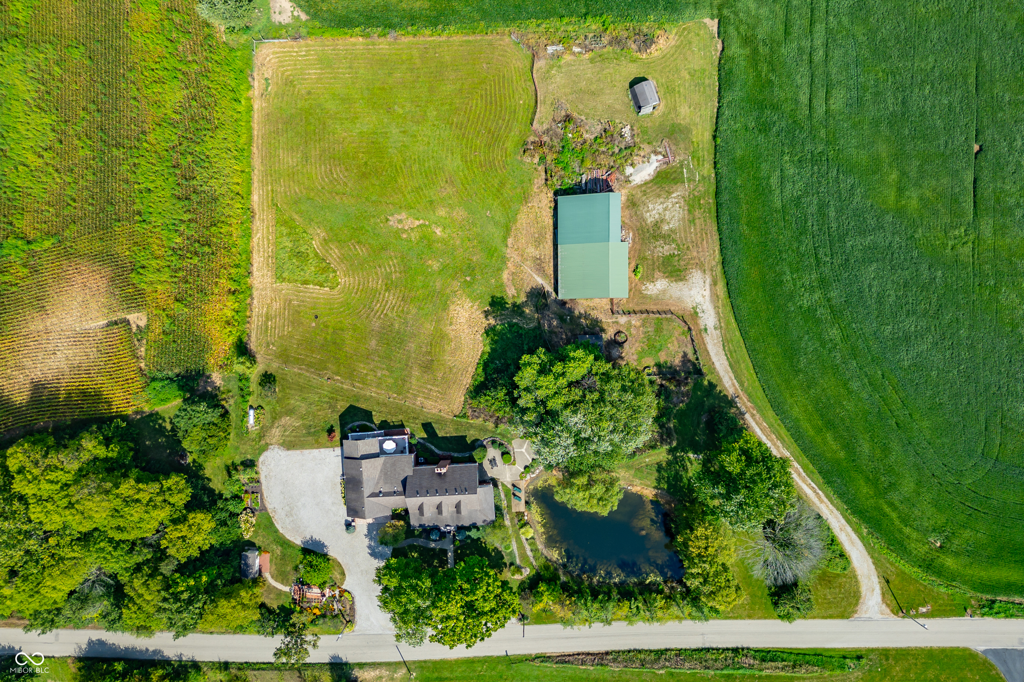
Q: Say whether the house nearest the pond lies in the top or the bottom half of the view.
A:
bottom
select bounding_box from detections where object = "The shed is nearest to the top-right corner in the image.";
[629,78,661,121]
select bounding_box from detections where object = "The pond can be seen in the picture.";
[531,472,688,583]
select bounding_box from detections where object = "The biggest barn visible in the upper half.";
[558,193,628,298]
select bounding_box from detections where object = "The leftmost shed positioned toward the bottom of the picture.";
[241,544,260,580]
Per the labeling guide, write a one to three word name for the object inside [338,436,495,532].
house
